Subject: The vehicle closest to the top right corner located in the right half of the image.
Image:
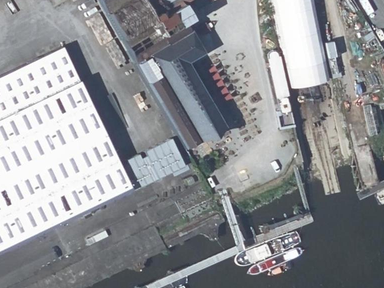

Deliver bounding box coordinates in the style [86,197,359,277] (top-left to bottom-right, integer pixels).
[360,0,374,18]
